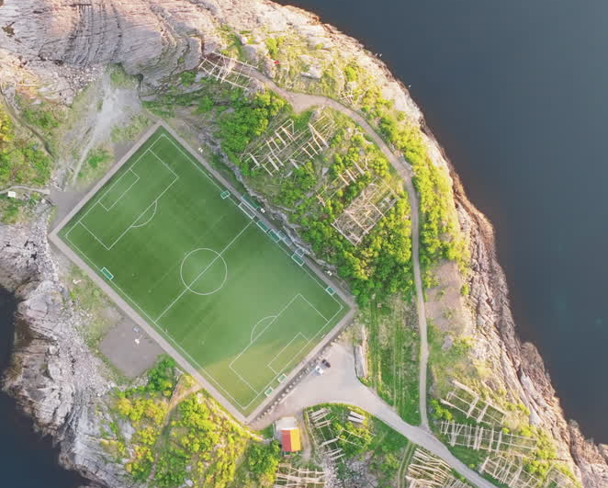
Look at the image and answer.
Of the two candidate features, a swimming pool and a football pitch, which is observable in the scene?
football pitch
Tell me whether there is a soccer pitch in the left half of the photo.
Yes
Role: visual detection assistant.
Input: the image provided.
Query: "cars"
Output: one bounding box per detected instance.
[314,365,324,374]
[322,358,332,369]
